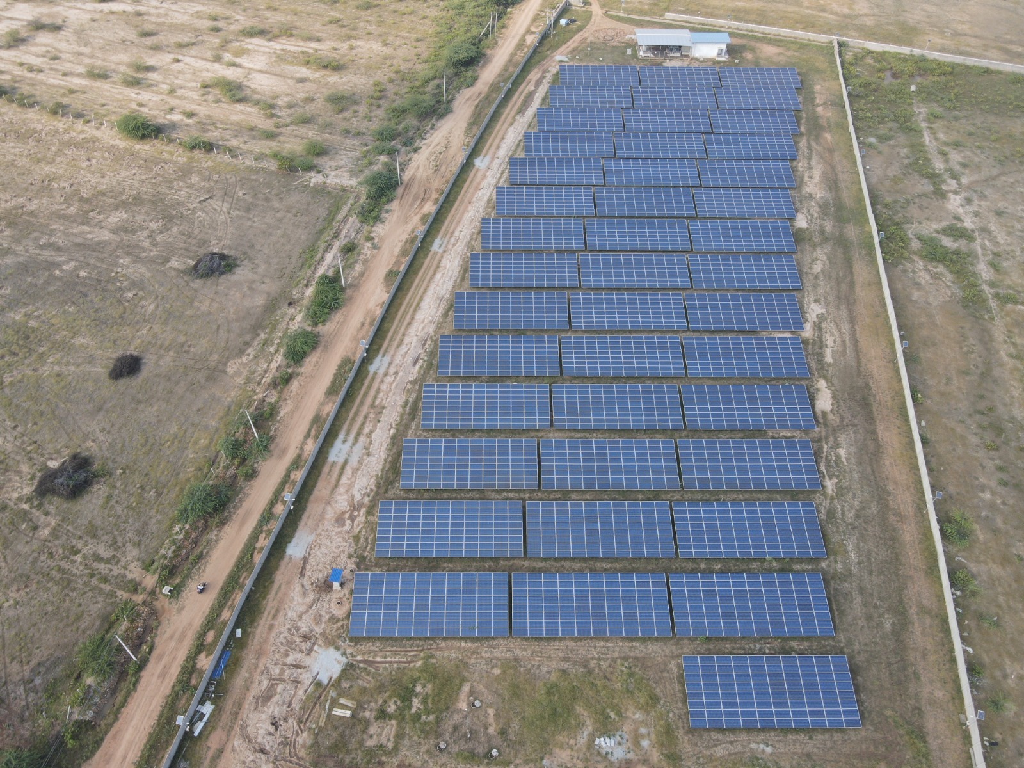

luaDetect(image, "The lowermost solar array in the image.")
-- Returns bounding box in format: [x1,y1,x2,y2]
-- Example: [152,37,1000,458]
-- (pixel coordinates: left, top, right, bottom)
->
[682,655,861,728]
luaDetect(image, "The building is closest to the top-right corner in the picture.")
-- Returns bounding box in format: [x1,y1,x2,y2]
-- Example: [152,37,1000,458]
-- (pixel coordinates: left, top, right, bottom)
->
[688,32,730,61]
